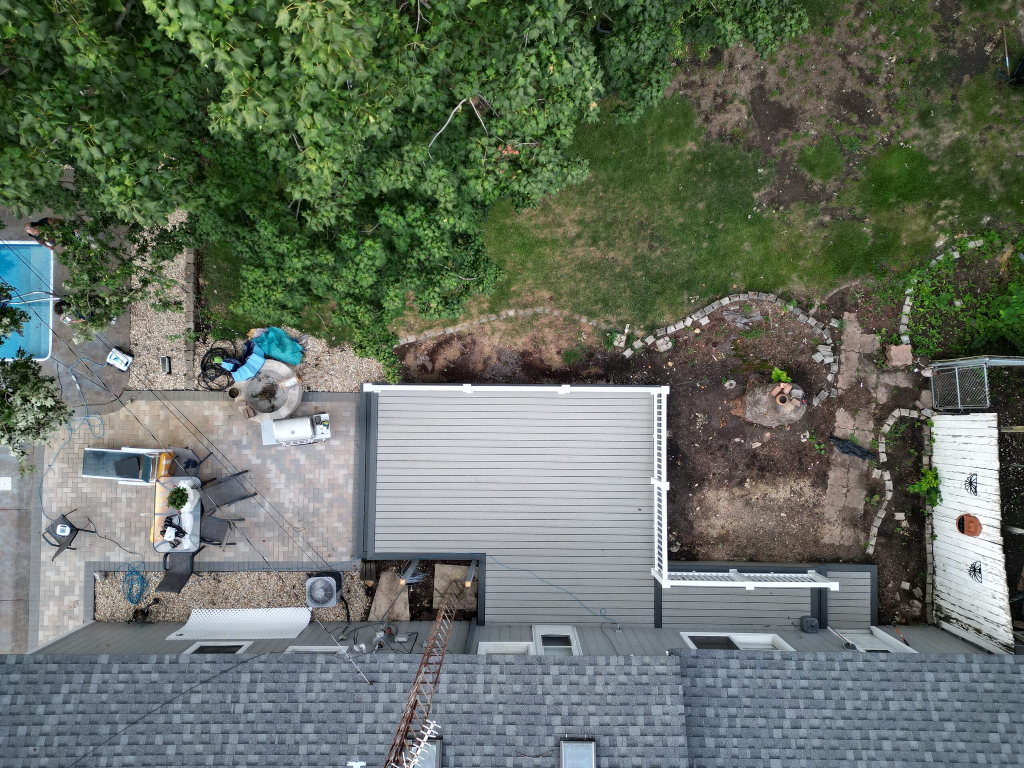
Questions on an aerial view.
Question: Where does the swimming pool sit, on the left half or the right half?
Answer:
left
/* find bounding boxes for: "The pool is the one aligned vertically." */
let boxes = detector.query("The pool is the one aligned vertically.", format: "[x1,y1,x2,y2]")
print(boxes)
[0,239,54,361]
